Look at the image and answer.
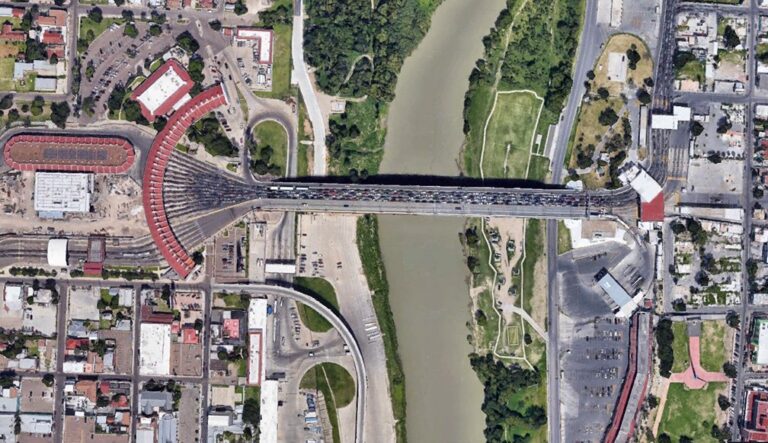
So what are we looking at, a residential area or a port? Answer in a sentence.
What you see here is a residential area.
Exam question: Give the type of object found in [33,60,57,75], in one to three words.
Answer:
house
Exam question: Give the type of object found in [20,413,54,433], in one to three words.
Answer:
building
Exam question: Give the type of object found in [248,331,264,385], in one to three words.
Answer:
building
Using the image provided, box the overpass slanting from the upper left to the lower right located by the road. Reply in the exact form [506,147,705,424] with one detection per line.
[208,282,368,443]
